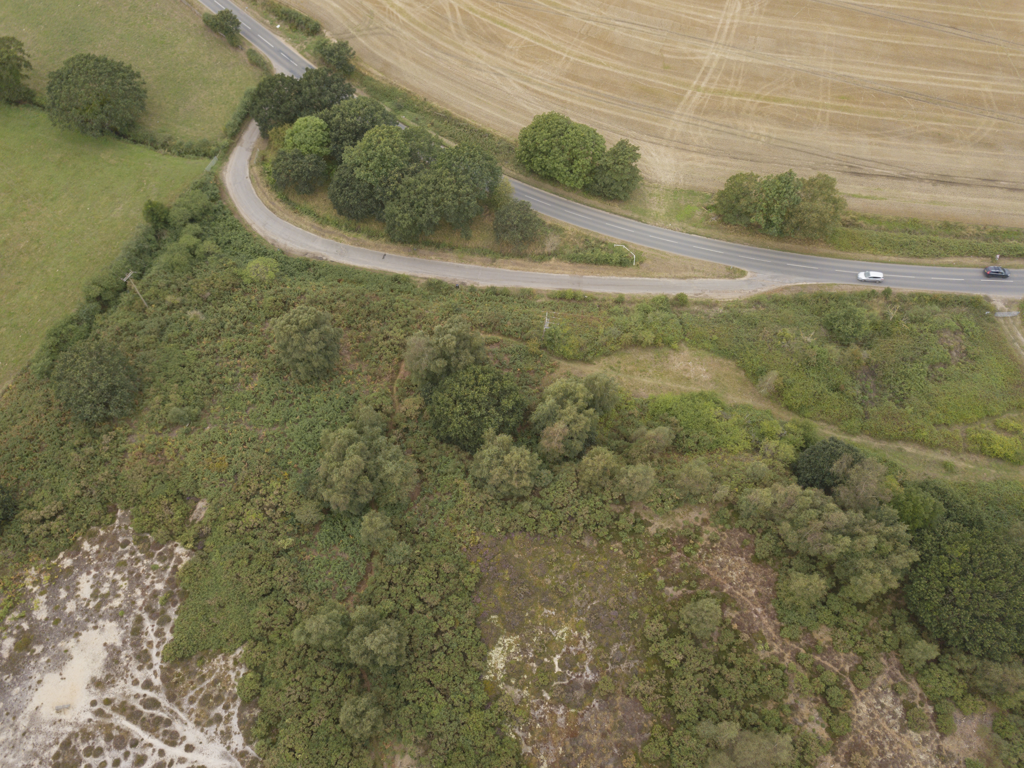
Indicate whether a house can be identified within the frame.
No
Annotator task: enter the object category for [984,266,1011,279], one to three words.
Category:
vehicle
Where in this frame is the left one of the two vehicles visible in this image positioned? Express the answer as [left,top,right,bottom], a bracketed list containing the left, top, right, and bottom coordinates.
[859,270,885,283]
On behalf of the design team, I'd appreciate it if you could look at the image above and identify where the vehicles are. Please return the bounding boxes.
[859,270,885,283]
[984,266,1011,279]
